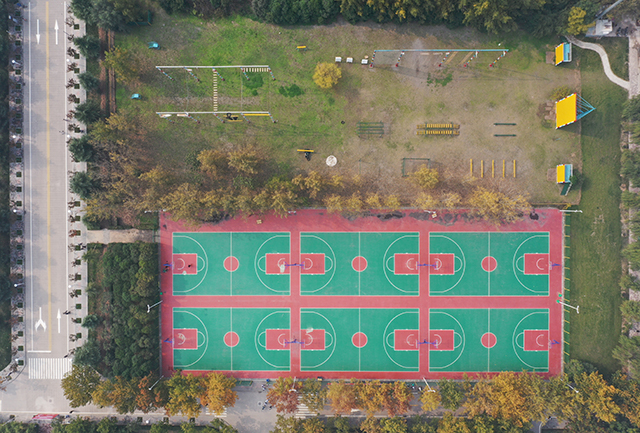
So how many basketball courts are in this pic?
six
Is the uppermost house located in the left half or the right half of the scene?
right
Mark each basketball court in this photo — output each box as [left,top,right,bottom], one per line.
[429,232,549,296]
[301,308,419,371]
[429,308,549,371]
[172,232,291,296]
[301,232,419,296]
[172,308,291,371]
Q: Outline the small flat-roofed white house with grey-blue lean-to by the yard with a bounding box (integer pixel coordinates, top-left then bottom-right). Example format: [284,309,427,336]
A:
[580,20,614,41]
